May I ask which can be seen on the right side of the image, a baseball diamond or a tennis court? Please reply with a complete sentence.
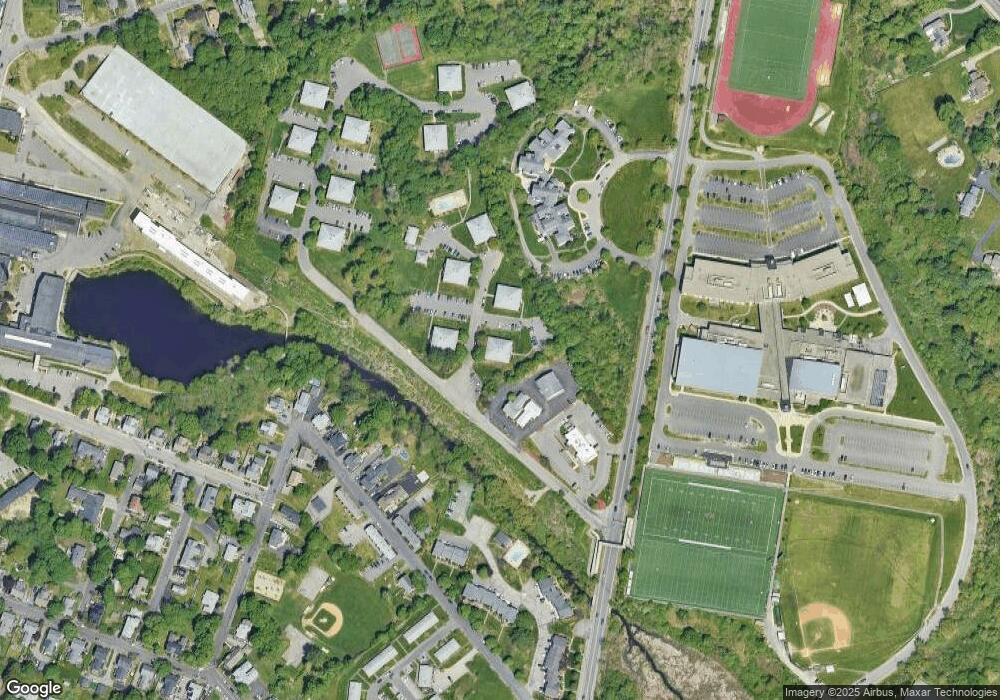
Looking on the right side of the image, you will find a baseball diamond.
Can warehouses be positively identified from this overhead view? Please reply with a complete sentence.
Yes, the photo shows a warehouse.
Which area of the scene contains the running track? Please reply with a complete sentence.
The running track is in the top right part of the image.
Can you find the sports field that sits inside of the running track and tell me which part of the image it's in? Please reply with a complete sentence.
Look in the top right portion of the view to spot the sports field that sits inside of the running track.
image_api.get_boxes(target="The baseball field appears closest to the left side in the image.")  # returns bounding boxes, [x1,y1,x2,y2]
[302,602,343,637]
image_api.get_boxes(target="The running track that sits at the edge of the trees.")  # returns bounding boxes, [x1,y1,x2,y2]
[714,0,844,136]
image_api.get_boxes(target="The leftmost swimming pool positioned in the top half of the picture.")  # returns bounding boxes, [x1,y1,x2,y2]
[430,192,467,215]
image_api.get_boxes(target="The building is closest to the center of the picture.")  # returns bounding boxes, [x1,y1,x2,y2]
[484,335,513,363]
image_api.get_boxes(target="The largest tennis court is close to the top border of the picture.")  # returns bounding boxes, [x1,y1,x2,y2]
[377,24,423,69]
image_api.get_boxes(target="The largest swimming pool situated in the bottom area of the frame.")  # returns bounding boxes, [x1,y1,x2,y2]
[506,543,528,567]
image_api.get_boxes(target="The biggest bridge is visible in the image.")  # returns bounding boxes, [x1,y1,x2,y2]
[588,508,635,576]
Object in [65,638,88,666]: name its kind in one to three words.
house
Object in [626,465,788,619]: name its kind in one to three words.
sports field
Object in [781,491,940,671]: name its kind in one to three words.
baseball field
